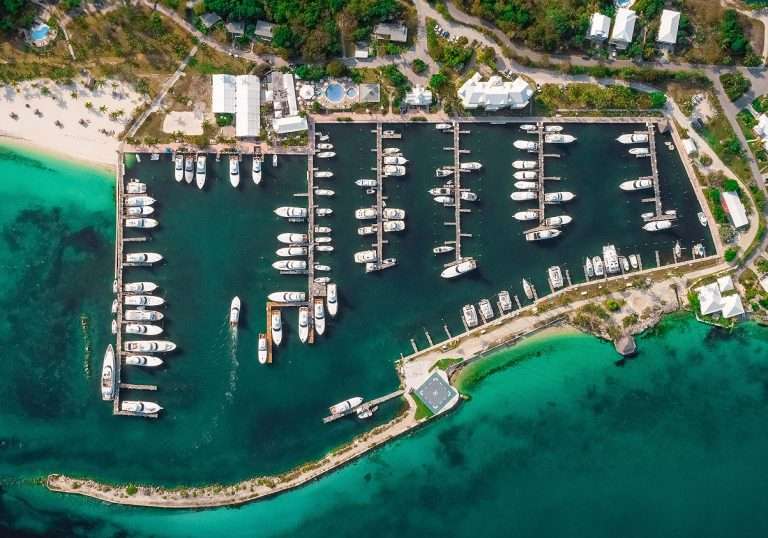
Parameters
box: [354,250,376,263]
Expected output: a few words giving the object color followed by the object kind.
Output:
white boat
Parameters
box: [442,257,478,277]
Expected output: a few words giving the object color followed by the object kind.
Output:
white boat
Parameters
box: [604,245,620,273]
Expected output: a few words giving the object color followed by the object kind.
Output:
white ship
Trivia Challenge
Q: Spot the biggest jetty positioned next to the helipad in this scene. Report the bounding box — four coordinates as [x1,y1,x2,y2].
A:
[323,389,406,422]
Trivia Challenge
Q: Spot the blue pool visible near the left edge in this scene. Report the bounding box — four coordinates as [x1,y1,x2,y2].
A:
[30,26,50,41]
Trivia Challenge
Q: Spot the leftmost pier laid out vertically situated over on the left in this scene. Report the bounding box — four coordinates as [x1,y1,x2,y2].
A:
[113,152,158,418]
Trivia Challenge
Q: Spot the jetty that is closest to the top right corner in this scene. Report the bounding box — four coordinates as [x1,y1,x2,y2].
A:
[634,122,676,222]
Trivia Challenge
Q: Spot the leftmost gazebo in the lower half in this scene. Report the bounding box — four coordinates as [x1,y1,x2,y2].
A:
[613,335,636,356]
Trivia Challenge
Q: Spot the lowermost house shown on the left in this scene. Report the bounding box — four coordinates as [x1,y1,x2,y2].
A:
[273,116,308,134]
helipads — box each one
[416,372,456,413]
